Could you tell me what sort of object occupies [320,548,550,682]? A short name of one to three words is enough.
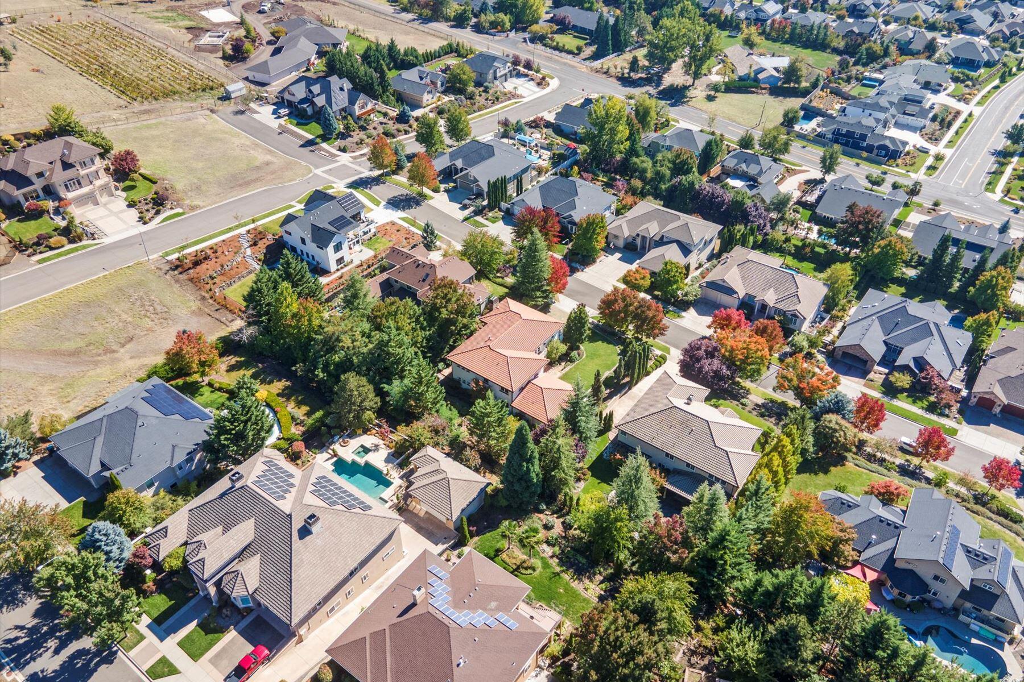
house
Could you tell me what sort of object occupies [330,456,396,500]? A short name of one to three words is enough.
swimming pool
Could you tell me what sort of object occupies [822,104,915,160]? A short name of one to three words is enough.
house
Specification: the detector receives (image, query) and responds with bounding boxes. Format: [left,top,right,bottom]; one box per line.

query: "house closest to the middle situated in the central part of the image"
[445,296,576,433]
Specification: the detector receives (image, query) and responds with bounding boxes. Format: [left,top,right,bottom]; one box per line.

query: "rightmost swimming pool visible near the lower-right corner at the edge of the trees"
[919,621,1011,682]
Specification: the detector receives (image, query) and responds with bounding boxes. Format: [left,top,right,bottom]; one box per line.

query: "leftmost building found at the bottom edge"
[144,448,405,652]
